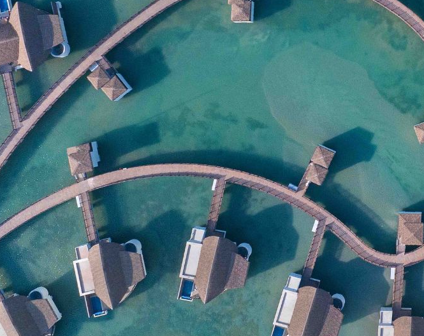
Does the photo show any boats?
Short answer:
No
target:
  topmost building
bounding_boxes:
[228,0,256,23]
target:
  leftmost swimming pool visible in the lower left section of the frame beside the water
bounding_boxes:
[88,291,109,316]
